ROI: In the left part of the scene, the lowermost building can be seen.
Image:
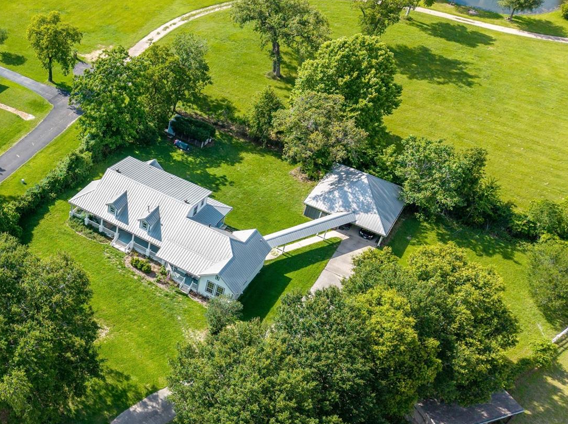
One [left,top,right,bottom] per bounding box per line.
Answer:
[68,156,272,302]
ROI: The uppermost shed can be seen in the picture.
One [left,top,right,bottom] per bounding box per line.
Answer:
[169,112,226,148]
